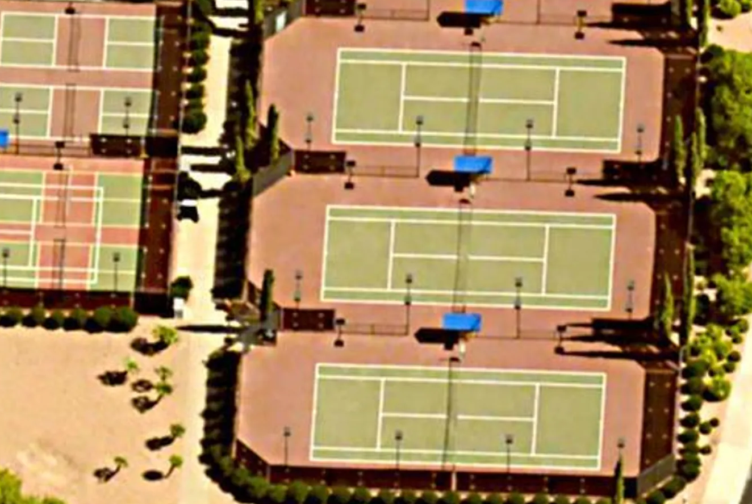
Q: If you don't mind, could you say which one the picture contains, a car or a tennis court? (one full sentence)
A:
Visible in the photo is a tennis court.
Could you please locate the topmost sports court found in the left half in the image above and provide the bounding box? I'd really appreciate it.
[0,12,165,72]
